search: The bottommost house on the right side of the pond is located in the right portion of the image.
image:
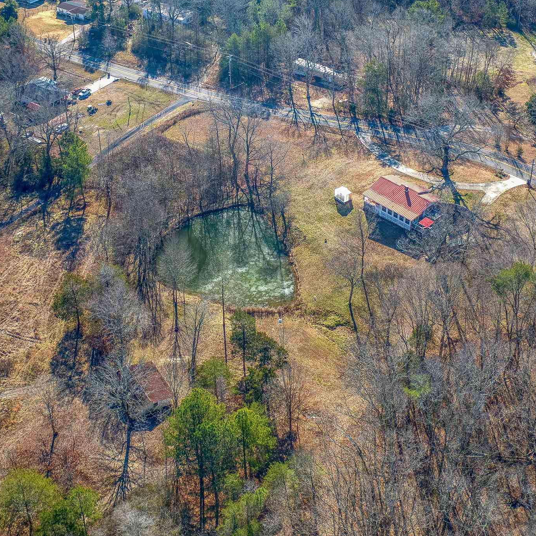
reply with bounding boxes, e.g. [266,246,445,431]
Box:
[365,177,451,243]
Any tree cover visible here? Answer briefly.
Yes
